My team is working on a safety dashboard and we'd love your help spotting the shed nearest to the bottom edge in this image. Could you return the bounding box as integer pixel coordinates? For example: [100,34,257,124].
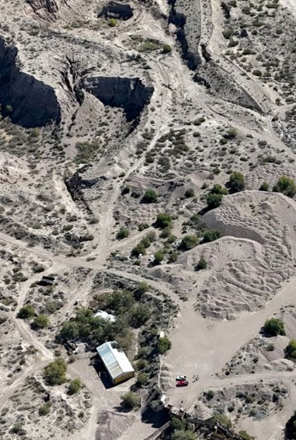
[96,342,134,383]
